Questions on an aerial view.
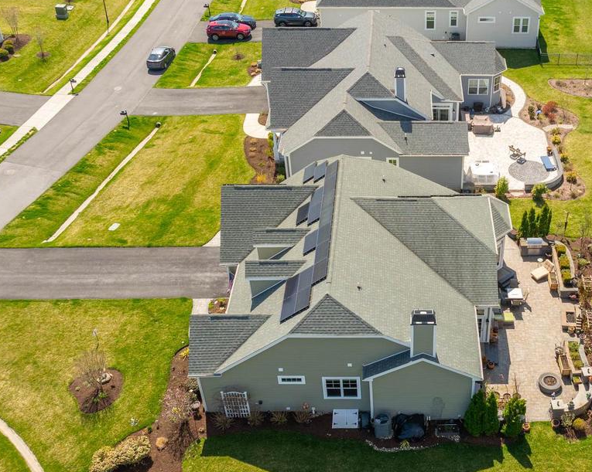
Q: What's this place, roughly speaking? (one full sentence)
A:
It's a residential area.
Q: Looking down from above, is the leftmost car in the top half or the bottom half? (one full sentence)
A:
The leftmost car sits in the top half of the picture.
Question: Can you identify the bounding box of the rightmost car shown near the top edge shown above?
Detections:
[271,5,319,27]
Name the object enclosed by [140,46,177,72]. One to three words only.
car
